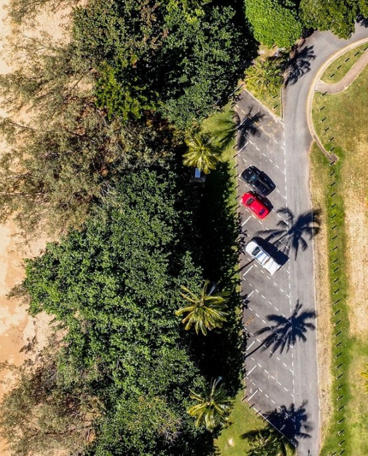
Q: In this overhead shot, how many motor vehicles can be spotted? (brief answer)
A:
3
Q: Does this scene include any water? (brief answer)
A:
No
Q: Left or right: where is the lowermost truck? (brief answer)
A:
right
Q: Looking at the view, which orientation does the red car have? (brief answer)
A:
diagonally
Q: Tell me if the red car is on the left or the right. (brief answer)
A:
right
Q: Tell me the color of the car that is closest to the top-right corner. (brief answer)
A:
black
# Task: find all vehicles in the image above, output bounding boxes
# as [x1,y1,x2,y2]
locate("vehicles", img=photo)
[239,191,271,220]
[241,164,275,198]
[245,239,284,277]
